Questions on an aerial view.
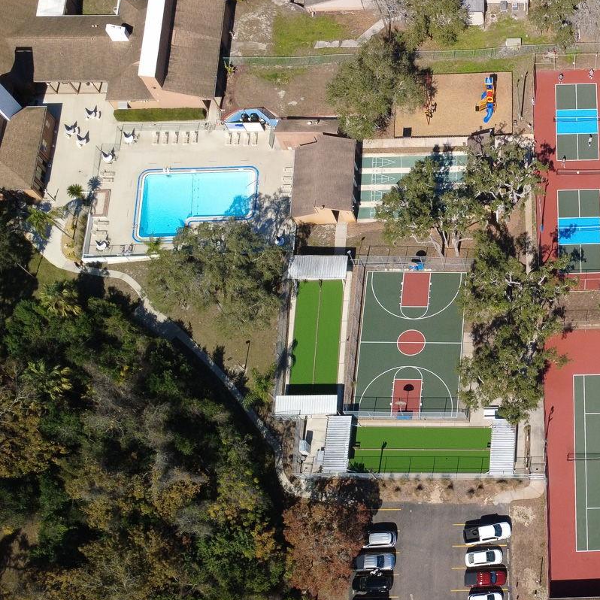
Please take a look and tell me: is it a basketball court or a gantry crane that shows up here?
basketball court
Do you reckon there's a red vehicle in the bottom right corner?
Yes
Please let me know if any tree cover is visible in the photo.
Yes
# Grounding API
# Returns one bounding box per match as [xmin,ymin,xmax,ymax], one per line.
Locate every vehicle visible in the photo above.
[467,590,503,600]
[361,530,396,548]
[462,522,512,545]
[463,568,505,588]
[351,574,393,592]
[351,553,395,571]
[465,548,502,566]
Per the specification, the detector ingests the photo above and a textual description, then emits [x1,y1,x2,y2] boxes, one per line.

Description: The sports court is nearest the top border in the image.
[555,83,600,161]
